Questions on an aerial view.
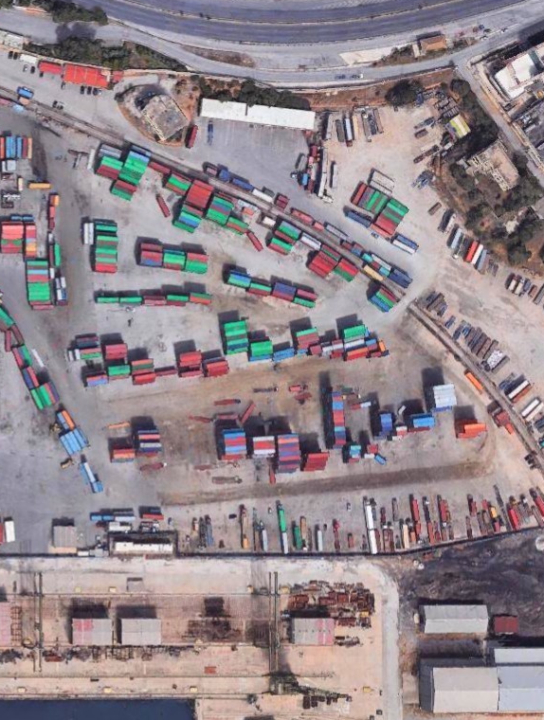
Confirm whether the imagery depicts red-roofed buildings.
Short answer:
Yes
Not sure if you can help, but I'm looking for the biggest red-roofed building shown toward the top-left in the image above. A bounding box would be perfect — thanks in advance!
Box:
[63,61,110,90]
